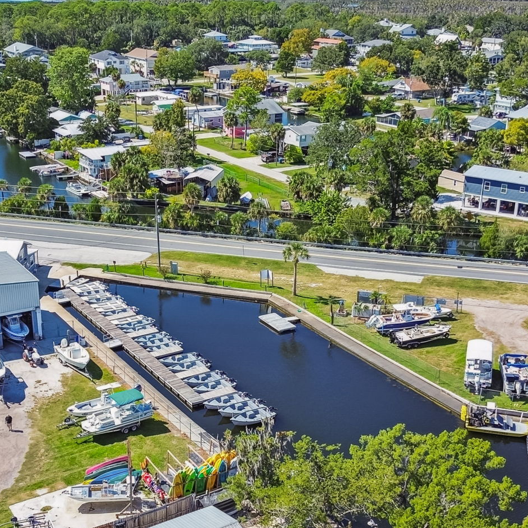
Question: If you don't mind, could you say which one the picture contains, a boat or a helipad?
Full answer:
Visible in the photo is a boat.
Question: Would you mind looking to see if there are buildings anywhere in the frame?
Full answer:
Yes, the photo shows a building.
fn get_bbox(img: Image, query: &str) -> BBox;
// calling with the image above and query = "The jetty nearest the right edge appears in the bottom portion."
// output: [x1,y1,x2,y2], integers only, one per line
[256,313,296,334]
